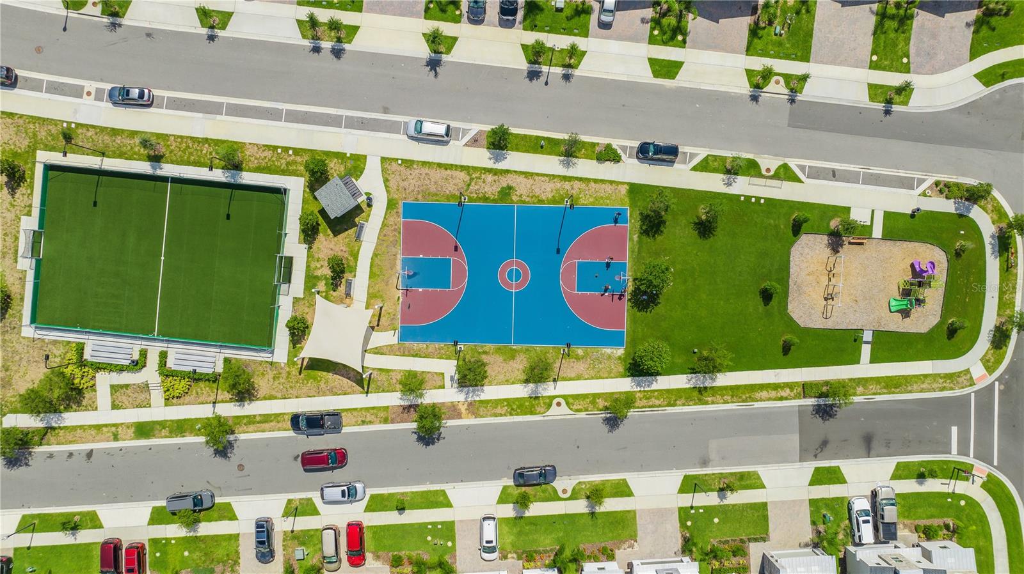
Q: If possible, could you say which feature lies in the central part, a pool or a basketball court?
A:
basketball court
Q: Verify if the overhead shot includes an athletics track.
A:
No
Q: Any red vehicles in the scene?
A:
Yes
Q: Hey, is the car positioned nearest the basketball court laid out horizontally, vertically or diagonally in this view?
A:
horizontally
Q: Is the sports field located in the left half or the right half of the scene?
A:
left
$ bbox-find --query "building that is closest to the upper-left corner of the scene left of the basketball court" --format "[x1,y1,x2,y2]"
[314,175,366,219]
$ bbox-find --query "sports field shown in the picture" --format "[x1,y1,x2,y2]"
[31,165,292,347]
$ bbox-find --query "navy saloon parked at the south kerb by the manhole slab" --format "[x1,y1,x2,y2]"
[513,464,556,485]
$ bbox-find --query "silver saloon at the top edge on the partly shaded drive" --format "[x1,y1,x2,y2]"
[597,0,617,27]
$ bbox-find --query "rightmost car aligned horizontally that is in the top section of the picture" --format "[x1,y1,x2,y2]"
[635,141,680,163]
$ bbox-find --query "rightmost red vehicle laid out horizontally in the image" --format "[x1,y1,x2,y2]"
[301,448,349,470]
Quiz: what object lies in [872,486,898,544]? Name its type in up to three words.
truck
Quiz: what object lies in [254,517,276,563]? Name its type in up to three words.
car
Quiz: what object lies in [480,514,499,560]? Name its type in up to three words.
car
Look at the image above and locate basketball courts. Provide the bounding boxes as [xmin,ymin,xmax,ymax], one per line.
[399,201,629,349]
